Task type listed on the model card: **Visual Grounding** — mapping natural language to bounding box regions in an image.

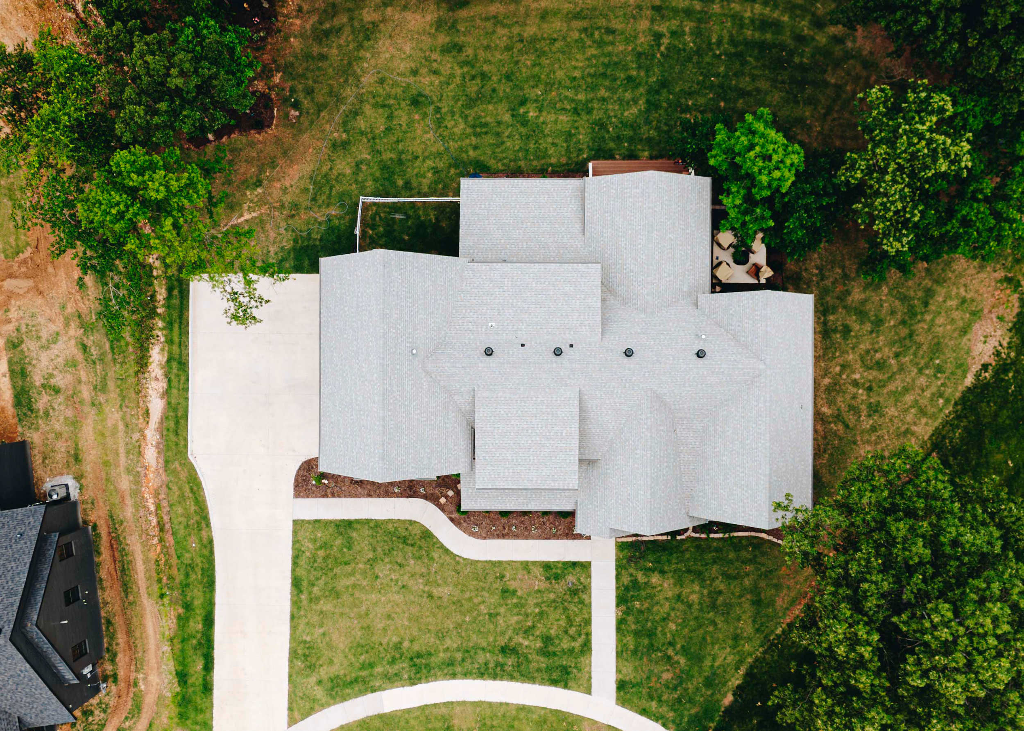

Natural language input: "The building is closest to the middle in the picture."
[317,169,816,538]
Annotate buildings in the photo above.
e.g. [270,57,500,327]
[0,443,105,731]
[317,169,816,538]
